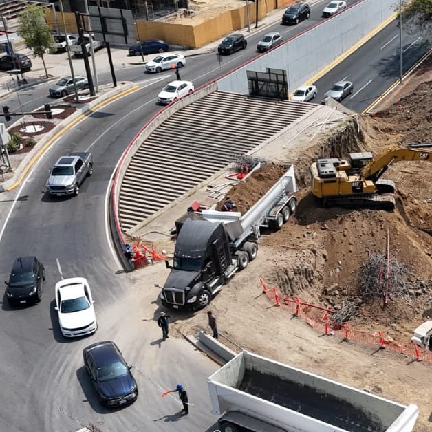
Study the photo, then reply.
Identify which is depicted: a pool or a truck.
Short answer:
truck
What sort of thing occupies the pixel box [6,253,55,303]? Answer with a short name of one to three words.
car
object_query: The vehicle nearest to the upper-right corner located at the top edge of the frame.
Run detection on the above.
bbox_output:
[325,2,351,18]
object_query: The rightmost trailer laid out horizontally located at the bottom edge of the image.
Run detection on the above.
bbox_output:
[205,347,416,432]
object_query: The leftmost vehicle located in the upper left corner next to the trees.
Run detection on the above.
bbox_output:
[0,52,34,72]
